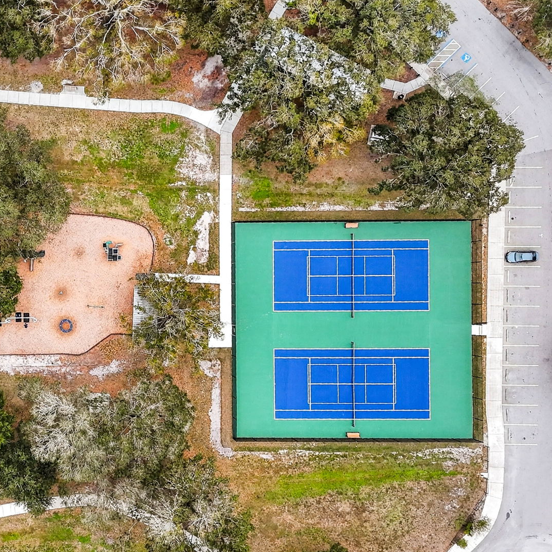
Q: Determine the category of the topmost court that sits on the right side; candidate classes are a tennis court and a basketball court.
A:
tennis court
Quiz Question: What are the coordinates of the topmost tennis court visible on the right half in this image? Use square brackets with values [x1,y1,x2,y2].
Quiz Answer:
[235,221,473,330]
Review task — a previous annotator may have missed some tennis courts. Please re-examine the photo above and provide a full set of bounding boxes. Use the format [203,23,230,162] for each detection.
[236,330,474,439]
[235,221,473,330]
